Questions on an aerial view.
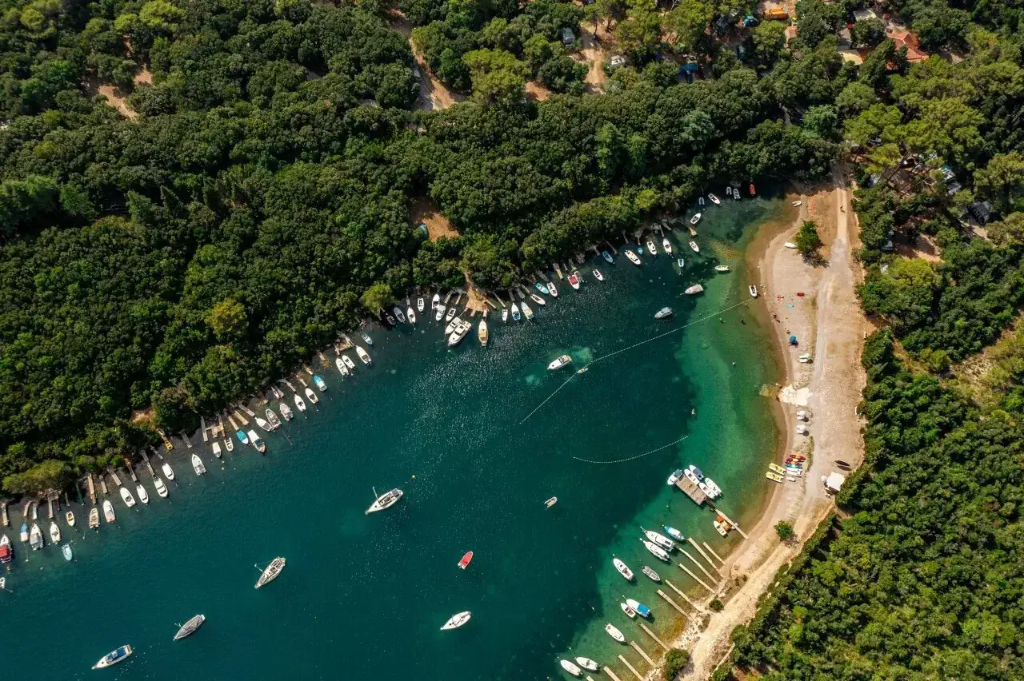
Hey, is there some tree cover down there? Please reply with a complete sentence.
Yes, there is tree cover in the image.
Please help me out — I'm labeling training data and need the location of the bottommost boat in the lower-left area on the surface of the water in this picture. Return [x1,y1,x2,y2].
[89,643,135,669]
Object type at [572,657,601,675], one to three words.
boat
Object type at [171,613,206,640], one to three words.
boat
